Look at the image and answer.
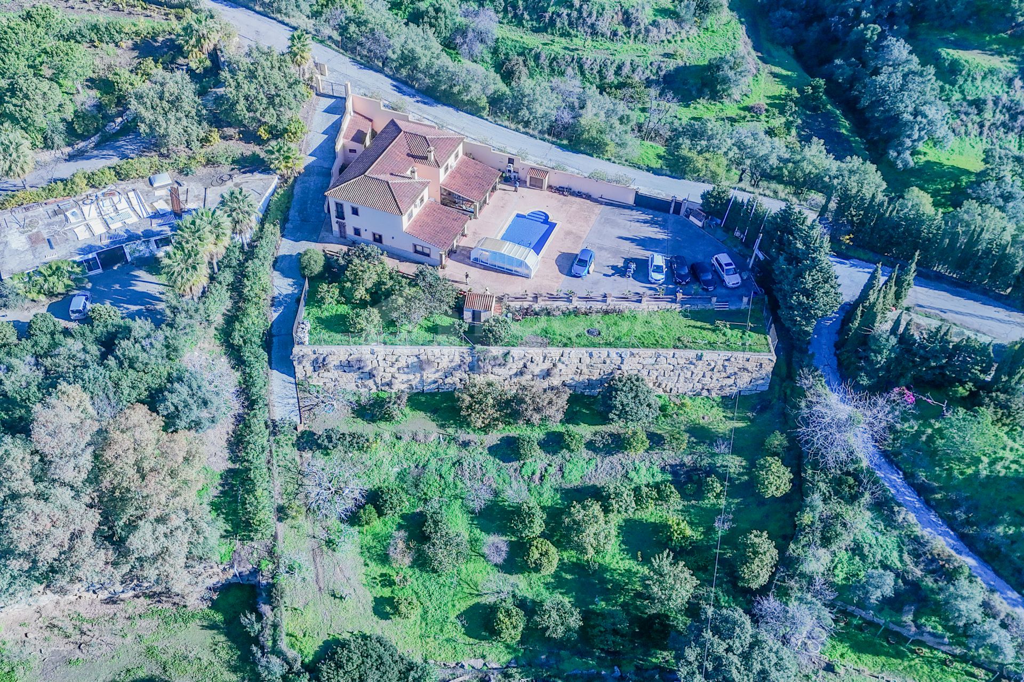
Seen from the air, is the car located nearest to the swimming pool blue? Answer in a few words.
Yes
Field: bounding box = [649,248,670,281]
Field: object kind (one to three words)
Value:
car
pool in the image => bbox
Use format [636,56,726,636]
[483,210,560,277]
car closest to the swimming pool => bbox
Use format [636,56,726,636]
[573,244,596,274]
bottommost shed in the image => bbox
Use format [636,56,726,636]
[462,281,500,322]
